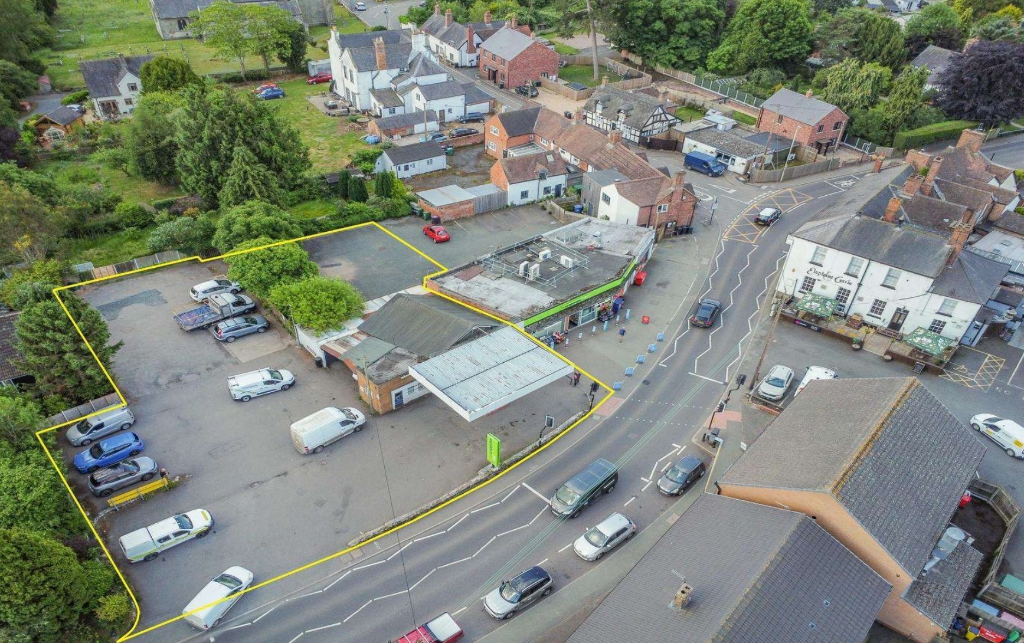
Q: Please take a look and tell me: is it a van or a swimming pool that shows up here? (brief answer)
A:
van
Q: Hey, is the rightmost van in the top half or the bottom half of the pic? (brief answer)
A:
bottom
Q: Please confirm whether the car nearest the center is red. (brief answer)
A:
Yes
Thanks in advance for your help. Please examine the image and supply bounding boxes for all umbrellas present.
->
[794,290,838,321]
[904,327,951,359]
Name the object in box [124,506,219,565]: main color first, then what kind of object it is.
white truck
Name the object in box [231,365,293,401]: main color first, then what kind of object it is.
white van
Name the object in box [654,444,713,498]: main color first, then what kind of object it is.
gray car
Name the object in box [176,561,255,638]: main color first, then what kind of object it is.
white van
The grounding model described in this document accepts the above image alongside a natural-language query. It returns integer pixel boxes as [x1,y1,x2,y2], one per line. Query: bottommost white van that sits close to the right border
[970,410,1024,461]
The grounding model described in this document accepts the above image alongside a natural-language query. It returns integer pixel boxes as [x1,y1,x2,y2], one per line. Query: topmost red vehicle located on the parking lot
[422,221,453,244]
